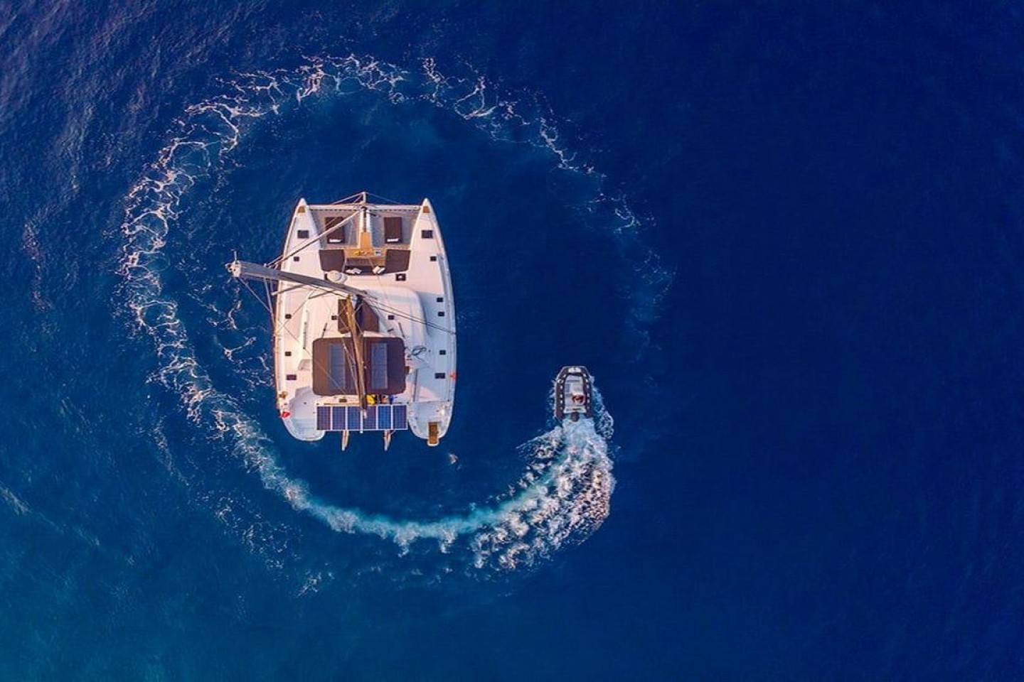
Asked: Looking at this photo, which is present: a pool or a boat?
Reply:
boat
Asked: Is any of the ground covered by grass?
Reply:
No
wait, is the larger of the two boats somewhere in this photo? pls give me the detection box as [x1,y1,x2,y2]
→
[226,192,456,451]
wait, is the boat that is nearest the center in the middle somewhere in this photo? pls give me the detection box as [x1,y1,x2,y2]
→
[556,365,593,421]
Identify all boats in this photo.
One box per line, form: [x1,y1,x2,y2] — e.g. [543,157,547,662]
[556,365,593,421]
[226,192,456,451]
